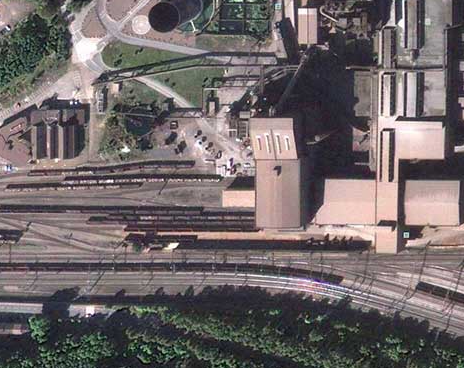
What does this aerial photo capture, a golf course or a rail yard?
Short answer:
rail yard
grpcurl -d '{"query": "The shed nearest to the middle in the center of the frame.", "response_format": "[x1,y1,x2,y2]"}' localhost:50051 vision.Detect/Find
[222,187,255,206]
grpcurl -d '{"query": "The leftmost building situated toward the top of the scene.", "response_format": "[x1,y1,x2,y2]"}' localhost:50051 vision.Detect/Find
[0,115,30,142]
